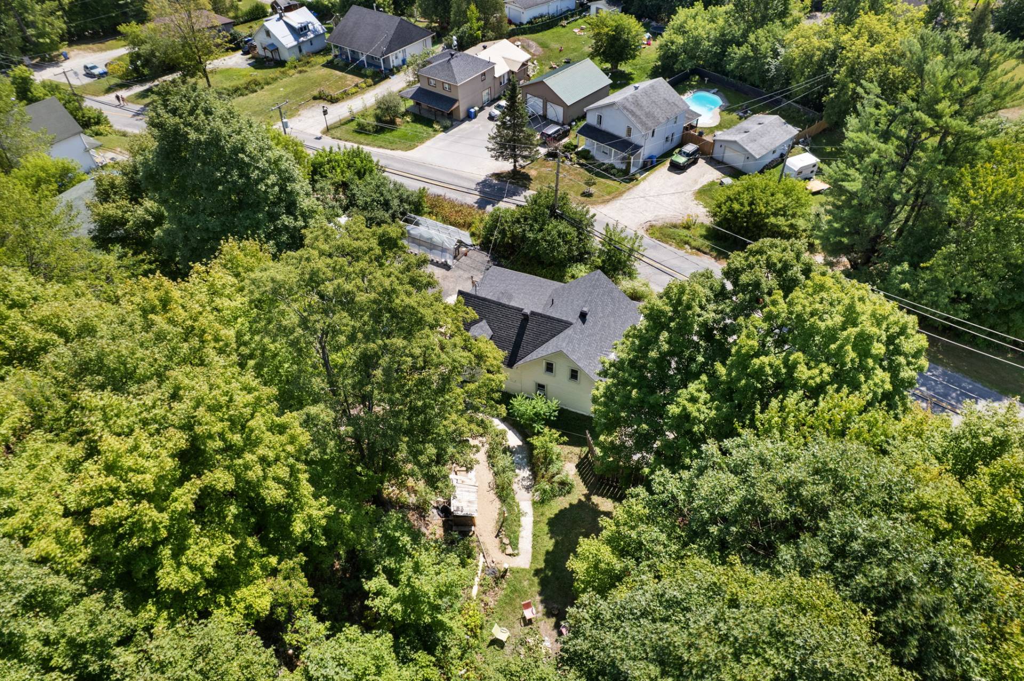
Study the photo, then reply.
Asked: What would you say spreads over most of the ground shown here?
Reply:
trees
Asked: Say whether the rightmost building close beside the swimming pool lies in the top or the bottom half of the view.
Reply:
top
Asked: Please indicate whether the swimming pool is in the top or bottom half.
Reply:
top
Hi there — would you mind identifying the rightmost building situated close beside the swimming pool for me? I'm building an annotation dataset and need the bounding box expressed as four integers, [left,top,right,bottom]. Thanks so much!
[712,115,796,172]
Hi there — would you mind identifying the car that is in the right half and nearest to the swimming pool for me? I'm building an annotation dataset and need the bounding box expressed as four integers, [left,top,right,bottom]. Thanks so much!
[670,143,705,171]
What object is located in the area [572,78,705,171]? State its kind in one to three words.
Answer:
house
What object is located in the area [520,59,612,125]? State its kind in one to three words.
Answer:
building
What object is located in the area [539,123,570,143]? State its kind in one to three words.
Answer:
car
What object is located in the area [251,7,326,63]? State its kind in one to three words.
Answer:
house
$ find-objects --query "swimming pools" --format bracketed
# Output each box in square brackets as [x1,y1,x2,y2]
[682,88,725,127]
